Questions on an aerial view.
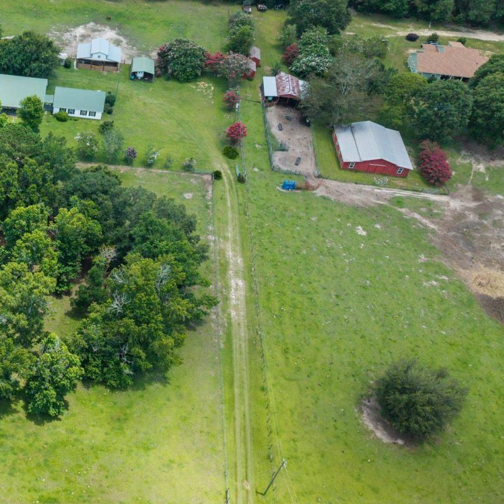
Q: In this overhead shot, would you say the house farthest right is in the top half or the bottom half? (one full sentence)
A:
Seen from above, the house farthest right lies in the top half of the view.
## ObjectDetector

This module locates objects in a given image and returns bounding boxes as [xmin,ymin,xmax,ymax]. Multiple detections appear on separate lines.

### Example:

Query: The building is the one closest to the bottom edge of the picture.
[332,121,414,176]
